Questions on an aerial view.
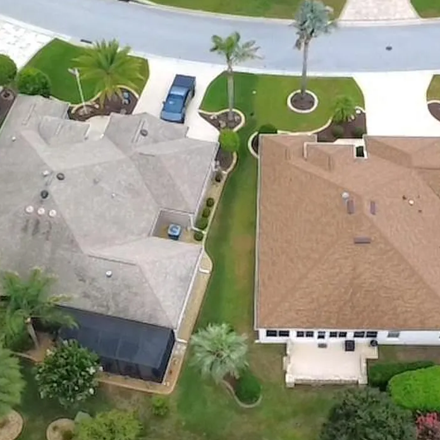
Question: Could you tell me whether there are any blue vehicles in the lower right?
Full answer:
No, I see no blue vehicle in the lower right.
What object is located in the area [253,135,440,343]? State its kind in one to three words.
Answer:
house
